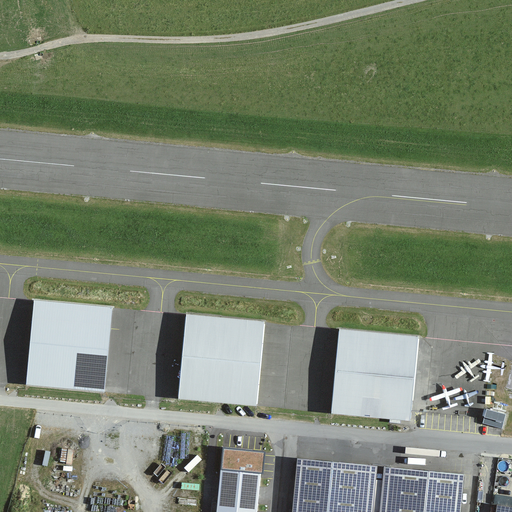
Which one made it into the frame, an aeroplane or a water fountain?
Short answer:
aeroplane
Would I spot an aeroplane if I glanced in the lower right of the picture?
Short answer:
Yes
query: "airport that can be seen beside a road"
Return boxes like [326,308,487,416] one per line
[0,129,512,437]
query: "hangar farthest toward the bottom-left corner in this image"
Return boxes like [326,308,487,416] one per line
[24,298,114,392]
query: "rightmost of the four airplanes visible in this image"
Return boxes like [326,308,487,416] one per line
[480,352,504,382]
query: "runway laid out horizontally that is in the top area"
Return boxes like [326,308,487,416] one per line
[0,129,512,236]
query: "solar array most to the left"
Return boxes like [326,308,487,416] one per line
[72,353,106,388]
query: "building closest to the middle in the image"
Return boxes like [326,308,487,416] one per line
[177,312,266,406]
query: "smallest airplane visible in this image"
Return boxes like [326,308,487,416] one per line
[454,390,479,406]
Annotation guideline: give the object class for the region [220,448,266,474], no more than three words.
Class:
building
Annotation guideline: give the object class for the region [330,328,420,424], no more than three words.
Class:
hangar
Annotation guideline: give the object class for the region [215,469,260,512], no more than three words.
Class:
building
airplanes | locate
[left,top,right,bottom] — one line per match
[454,358,481,381]
[430,385,464,409]
[454,390,479,406]
[480,352,504,382]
